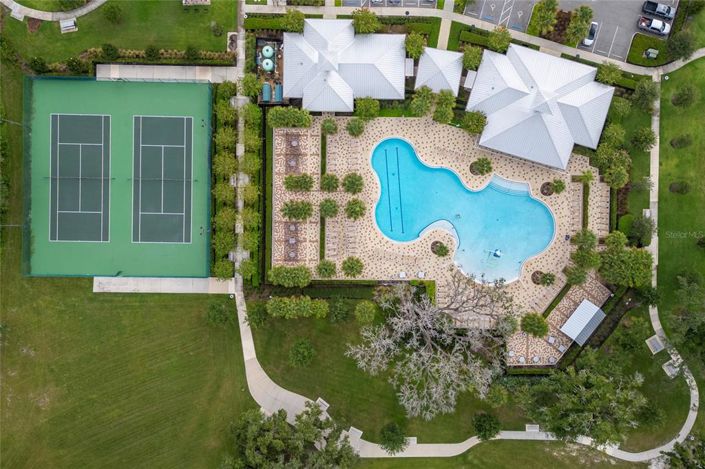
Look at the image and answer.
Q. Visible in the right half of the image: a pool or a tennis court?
pool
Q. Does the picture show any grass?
Yes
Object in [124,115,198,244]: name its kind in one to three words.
tennis court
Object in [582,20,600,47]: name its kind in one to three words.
car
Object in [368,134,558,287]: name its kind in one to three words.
swimming pool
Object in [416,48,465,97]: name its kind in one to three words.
building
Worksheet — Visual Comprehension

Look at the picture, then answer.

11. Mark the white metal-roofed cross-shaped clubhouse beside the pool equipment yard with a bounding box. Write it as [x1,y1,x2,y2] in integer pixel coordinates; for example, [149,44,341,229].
[284,19,406,112]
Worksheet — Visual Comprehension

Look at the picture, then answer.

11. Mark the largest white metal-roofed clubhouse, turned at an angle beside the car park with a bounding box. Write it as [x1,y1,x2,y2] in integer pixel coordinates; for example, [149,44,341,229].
[467,39,614,166]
